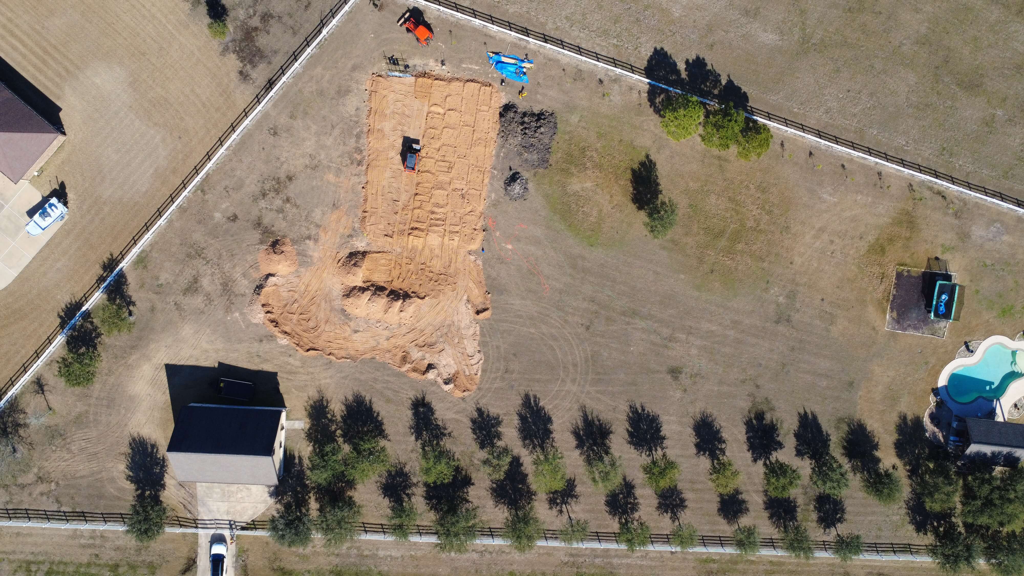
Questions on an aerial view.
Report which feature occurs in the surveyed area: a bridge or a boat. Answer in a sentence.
I can see a boat in this picture.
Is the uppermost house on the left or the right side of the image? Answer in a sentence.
It is on the left.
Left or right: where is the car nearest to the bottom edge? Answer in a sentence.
You can find the car nearest to the bottom edge on the left side of the picture.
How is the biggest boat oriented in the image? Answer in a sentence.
The biggest boat is oriented diagonally.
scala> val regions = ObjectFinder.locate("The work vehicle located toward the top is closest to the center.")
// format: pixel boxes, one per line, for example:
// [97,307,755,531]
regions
[402,146,421,176]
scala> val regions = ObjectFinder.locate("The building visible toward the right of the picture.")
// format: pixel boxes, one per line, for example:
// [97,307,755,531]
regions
[950,417,1024,469]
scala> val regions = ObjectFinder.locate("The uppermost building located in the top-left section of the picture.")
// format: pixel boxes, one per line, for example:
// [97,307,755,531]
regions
[0,83,70,185]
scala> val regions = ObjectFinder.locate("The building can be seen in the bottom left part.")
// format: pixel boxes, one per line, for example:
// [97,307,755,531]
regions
[164,403,285,486]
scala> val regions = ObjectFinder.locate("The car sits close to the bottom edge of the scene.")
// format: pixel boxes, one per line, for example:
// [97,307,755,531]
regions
[209,542,229,576]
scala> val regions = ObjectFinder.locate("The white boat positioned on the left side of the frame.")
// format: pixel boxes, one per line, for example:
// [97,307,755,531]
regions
[29,196,70,240]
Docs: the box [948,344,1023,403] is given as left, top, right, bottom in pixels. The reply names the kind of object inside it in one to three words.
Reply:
swimming pool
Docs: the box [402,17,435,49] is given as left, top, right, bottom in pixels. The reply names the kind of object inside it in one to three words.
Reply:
work vehicle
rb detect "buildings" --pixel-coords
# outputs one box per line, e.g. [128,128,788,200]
[950,417,1024,469]
[0,83,70,185]
[164,403,285,486]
